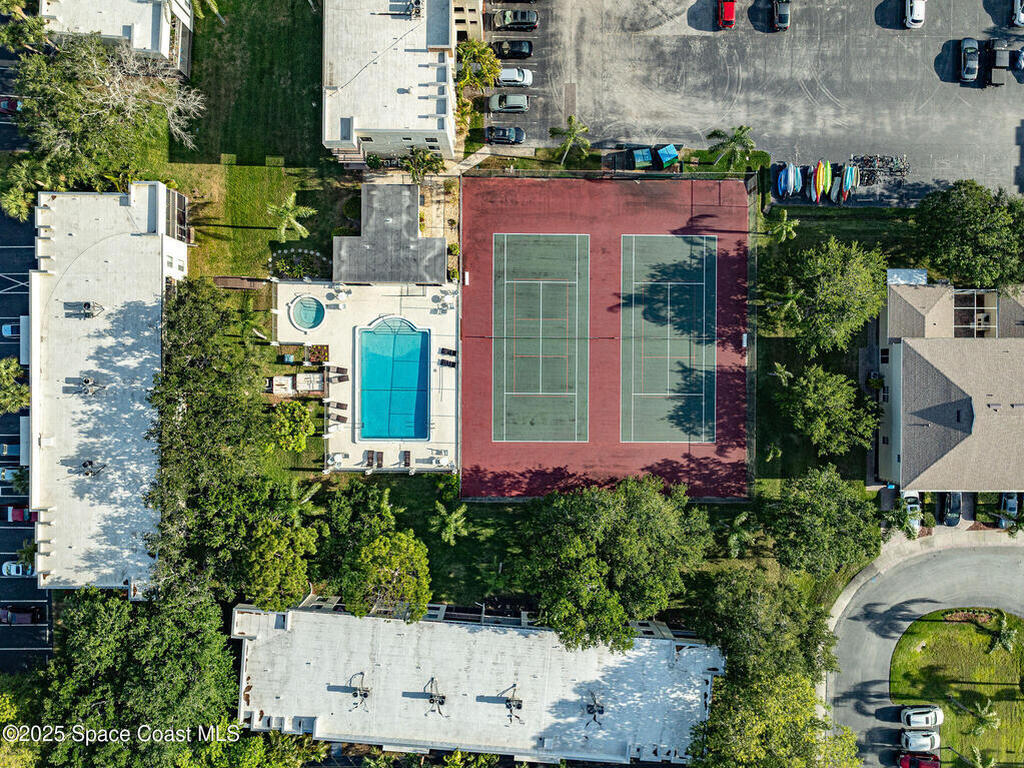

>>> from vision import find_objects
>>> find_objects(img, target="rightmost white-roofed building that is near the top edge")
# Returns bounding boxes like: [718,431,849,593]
[322,0,455,180]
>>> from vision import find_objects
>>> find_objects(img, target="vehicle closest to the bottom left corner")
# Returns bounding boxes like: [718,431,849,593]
[0,605,37,628]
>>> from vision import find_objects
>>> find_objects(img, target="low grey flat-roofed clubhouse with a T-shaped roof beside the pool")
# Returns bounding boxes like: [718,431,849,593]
[333,184,448,286]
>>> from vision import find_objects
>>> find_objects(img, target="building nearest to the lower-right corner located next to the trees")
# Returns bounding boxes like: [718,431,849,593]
[879,284,1024,492]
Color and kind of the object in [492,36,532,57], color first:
black car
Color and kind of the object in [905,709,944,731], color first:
white car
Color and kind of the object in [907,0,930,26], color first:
white car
